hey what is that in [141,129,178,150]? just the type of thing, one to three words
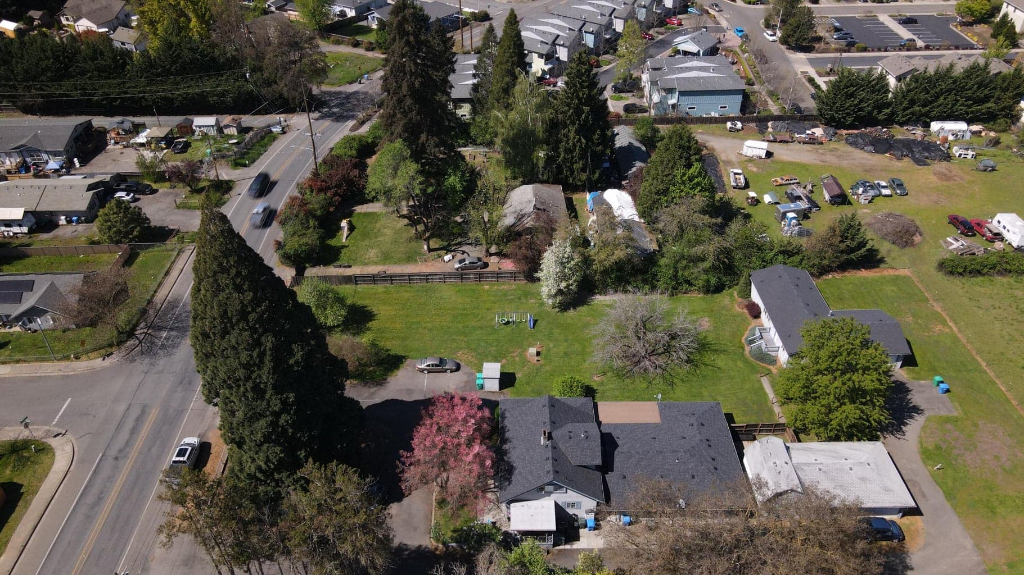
gazebo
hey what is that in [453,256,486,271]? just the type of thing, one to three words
car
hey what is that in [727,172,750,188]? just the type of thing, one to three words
vehicle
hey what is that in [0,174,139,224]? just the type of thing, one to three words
house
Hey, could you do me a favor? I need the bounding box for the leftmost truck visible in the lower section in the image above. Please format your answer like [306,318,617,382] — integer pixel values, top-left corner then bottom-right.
[163,436,200,481]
